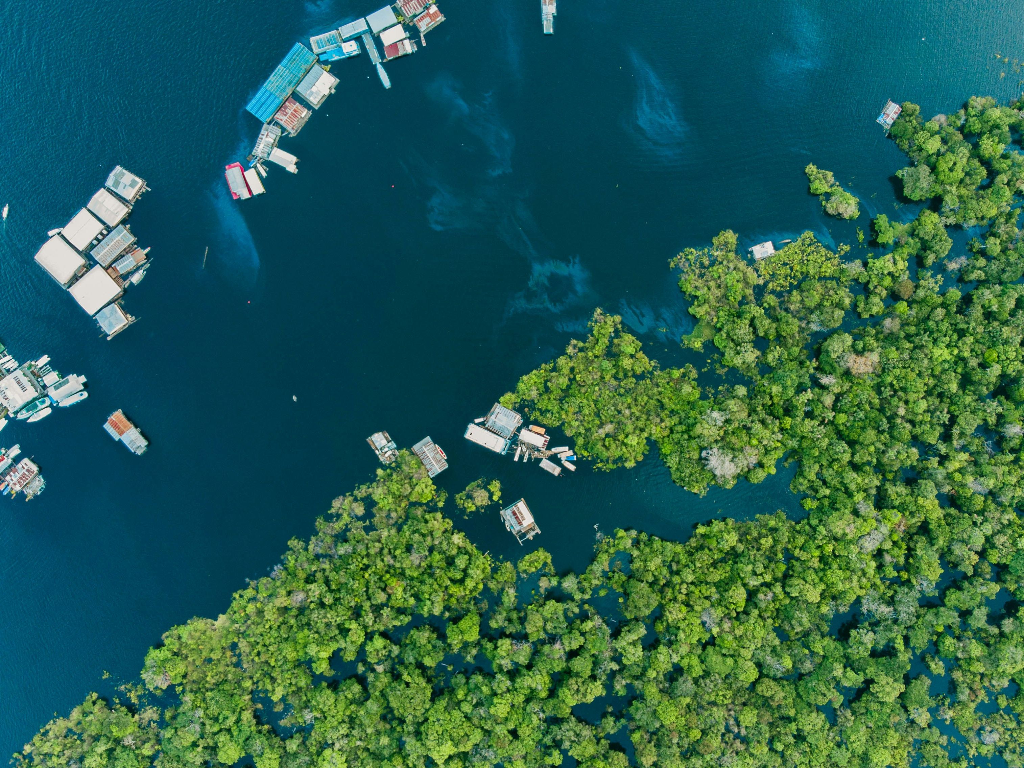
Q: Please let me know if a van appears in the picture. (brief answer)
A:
No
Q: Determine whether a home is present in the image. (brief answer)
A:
Yes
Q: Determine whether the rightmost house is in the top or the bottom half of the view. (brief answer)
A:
top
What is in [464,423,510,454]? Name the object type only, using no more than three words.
vessel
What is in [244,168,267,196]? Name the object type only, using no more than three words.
boat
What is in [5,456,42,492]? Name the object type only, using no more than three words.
house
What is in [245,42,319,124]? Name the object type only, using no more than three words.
building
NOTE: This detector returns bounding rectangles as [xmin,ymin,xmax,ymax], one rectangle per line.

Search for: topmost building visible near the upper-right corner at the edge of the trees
[876,98,901,129]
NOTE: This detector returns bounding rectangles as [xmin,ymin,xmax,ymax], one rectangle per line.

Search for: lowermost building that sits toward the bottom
[501,498,541,546]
